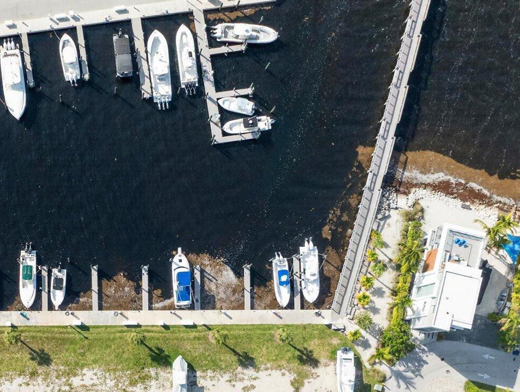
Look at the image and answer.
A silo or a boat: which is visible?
boat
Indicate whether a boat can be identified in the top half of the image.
Yes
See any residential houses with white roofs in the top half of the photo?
No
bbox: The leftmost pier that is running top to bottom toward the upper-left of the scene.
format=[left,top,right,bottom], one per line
[21,31,36,87]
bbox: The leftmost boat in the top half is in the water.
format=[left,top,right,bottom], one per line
[0,43,28,119]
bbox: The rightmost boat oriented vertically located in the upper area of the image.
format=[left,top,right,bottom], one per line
[175,22,199,98]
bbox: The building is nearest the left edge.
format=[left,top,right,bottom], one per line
[405,223,486,335]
